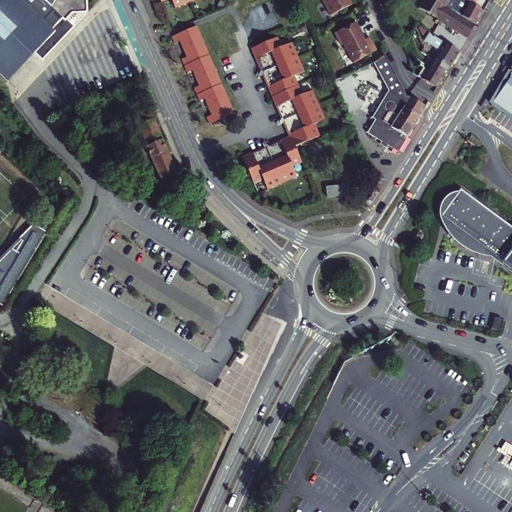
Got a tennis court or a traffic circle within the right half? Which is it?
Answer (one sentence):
There is a traffic circle within the right half.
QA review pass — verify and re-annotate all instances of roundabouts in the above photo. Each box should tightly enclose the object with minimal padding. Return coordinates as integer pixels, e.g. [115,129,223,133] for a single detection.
[292,232,395,334]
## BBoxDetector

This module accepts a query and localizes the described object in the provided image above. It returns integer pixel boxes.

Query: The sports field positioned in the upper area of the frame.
[0,152,42,251]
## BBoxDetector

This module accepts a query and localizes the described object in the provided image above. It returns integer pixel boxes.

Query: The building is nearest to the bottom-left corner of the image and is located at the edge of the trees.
[0,226,46,306]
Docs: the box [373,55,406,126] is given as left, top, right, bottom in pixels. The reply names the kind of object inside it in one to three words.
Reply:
building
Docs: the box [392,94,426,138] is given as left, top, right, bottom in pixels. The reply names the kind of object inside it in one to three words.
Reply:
house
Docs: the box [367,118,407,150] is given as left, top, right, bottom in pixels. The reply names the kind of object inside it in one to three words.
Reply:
building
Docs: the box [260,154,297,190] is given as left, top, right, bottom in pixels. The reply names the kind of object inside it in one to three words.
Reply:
house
